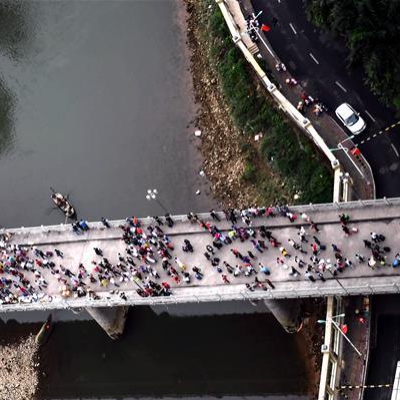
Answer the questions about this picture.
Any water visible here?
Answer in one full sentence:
Yes, water shows up in the scene.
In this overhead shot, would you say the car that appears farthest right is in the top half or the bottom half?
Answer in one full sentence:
Seen from above, the car that appears farthest right lies in the top half of the view.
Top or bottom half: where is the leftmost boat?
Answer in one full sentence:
It is in the bottom half that the leftmost boat appears.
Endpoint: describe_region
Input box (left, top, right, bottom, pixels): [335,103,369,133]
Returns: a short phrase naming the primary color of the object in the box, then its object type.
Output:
white car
